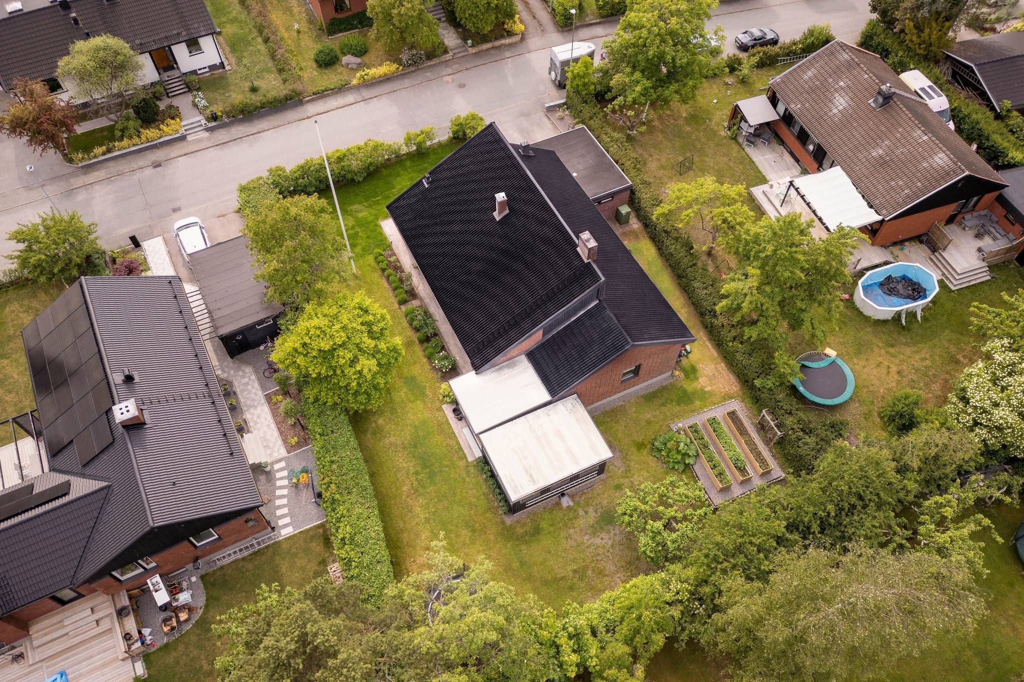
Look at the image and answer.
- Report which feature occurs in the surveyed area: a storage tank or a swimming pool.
swimming pool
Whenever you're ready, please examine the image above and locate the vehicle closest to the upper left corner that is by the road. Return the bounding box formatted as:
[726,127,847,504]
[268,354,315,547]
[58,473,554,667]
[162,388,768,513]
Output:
[173,217,213,270]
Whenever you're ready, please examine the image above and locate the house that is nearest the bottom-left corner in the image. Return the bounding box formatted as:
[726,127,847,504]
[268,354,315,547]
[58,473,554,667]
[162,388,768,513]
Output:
[0,273,278,643]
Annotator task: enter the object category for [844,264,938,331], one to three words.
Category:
swimming pool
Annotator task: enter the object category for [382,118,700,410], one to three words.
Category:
house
